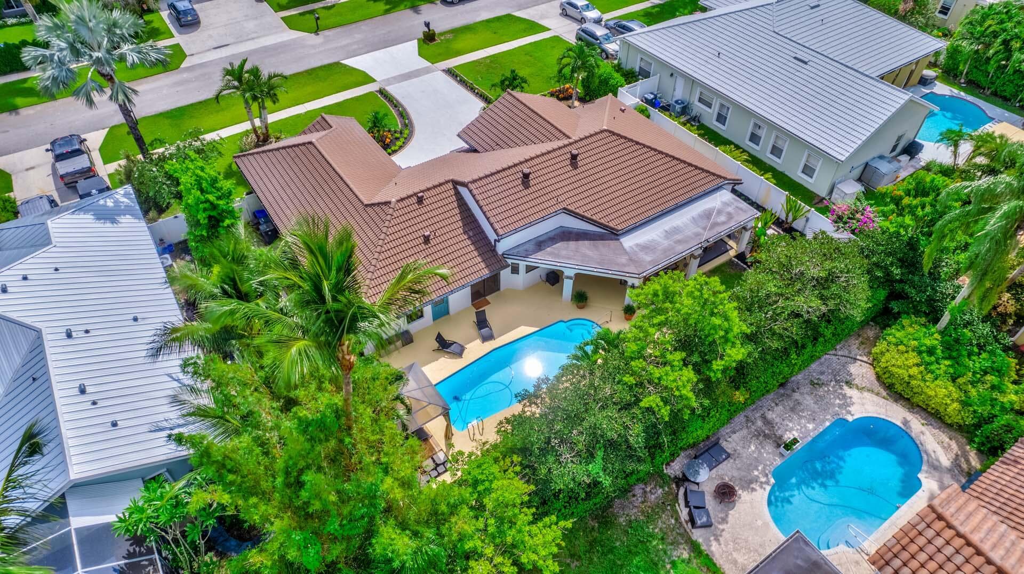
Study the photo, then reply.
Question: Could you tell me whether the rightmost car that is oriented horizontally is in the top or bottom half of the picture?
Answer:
top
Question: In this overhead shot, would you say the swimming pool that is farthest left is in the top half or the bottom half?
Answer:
bottom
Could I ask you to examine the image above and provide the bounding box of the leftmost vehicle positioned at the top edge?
[163,1,195,28]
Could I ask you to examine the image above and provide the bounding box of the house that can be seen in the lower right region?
[860,438,1024,574]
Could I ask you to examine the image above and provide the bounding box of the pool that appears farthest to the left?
[430,314,613,439]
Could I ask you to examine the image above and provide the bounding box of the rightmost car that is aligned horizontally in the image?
[602,17,645,37]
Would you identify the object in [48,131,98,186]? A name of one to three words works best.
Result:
truck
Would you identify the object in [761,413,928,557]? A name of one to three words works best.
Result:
swimming pool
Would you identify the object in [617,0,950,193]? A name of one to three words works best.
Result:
house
